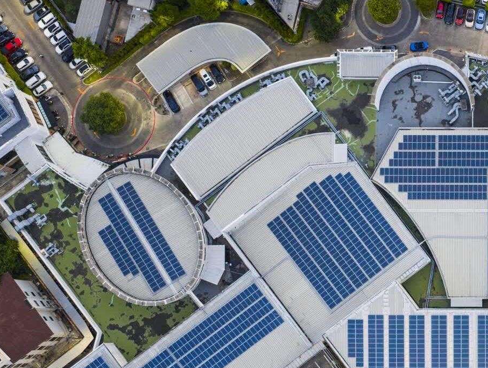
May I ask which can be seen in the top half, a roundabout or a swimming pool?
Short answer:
roundabout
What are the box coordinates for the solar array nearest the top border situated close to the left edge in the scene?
[0,98,14,123]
